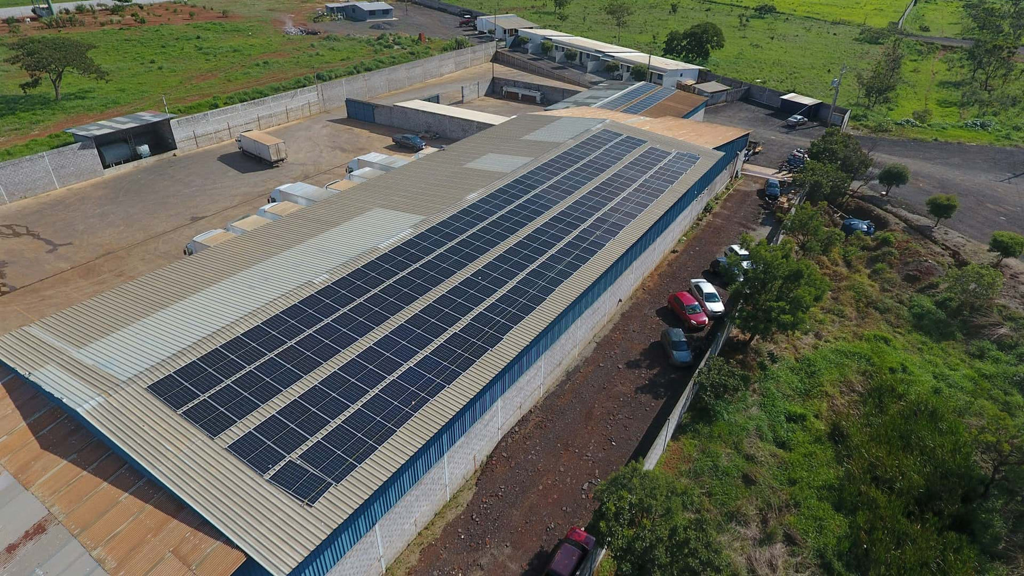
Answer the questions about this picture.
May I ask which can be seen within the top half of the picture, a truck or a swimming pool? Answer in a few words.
truck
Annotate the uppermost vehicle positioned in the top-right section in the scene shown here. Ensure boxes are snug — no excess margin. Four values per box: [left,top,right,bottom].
[784,115,810,129]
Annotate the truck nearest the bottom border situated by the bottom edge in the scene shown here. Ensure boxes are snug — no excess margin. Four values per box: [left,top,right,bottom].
[523,518,600,576]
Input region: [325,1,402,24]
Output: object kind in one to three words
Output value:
house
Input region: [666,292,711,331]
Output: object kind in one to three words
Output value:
car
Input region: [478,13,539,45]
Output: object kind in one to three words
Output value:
barn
